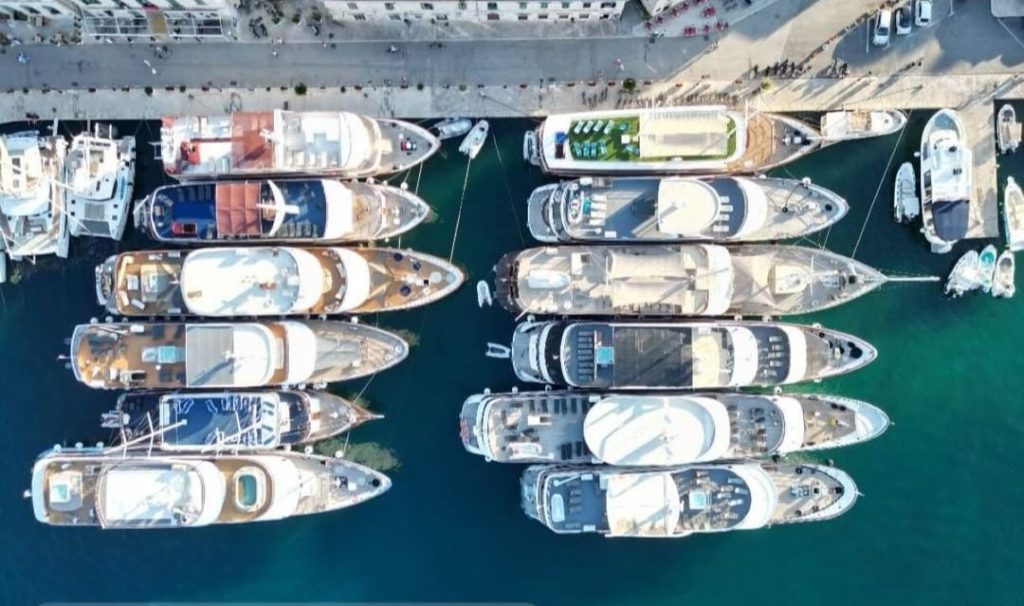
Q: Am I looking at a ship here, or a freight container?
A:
ship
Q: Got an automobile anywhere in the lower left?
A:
No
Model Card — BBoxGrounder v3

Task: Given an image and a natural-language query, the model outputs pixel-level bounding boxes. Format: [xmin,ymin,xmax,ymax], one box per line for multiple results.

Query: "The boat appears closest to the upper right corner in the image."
[998,104,1023,154]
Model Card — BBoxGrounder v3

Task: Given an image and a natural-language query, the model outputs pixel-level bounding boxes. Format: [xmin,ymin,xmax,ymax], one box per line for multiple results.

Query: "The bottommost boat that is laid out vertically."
[551,493,566,524]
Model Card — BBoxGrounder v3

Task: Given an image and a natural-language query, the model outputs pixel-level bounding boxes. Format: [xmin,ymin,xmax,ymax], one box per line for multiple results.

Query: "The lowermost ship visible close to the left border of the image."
[10,446,391,528]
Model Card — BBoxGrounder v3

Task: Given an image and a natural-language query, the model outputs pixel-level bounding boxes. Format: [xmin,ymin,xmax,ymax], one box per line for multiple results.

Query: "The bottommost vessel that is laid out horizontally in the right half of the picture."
[522,462,864,536]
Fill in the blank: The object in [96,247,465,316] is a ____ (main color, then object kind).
white ship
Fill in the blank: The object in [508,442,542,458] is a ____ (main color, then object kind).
white boat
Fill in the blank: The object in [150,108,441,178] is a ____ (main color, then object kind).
white ship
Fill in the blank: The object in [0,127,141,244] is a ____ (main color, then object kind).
white boat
